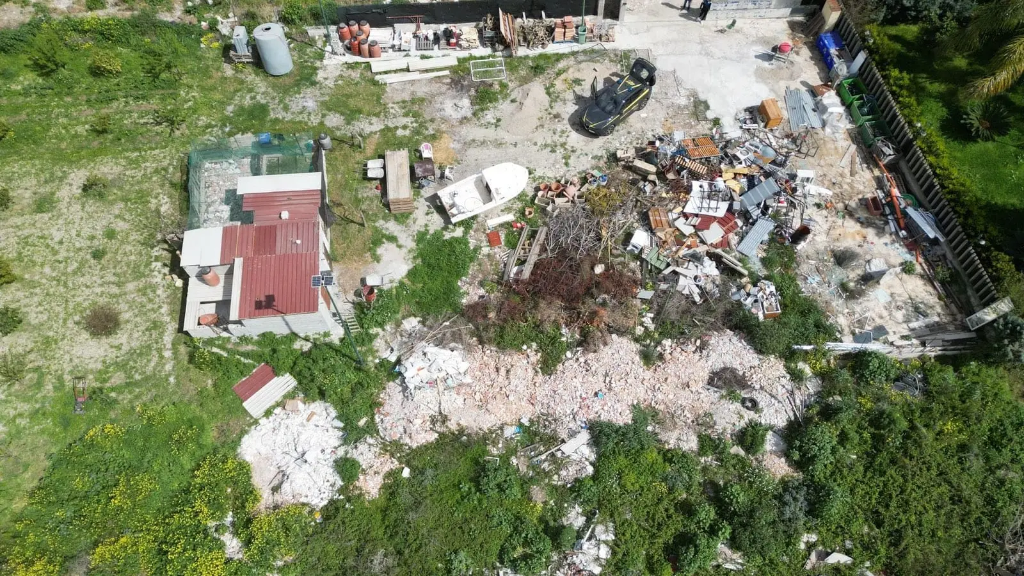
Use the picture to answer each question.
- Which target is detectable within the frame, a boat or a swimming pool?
boat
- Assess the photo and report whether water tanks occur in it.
Yes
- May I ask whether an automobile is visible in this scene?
Yes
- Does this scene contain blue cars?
No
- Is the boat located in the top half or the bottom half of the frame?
top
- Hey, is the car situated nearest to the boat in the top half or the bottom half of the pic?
top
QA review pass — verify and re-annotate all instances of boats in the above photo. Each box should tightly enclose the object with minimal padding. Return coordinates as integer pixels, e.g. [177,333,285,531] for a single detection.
[437,169,526,228]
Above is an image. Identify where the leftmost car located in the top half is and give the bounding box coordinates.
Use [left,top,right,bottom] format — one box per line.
[577,52,664,139]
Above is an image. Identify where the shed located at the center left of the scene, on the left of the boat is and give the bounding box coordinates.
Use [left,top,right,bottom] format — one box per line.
[181,172,331,339]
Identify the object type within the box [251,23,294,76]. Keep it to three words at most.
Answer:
water tank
